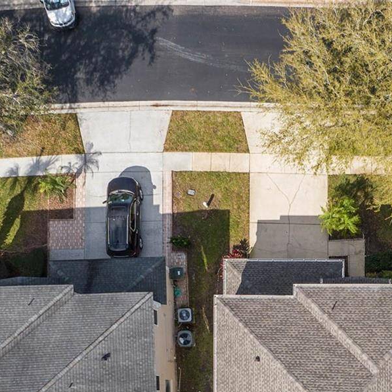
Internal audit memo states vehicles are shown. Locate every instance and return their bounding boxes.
[34,0,77,32]
[101,171,144,254]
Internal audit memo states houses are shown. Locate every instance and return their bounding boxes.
[213,258,392,392]
[0,257,177,392]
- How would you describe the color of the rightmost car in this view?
black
